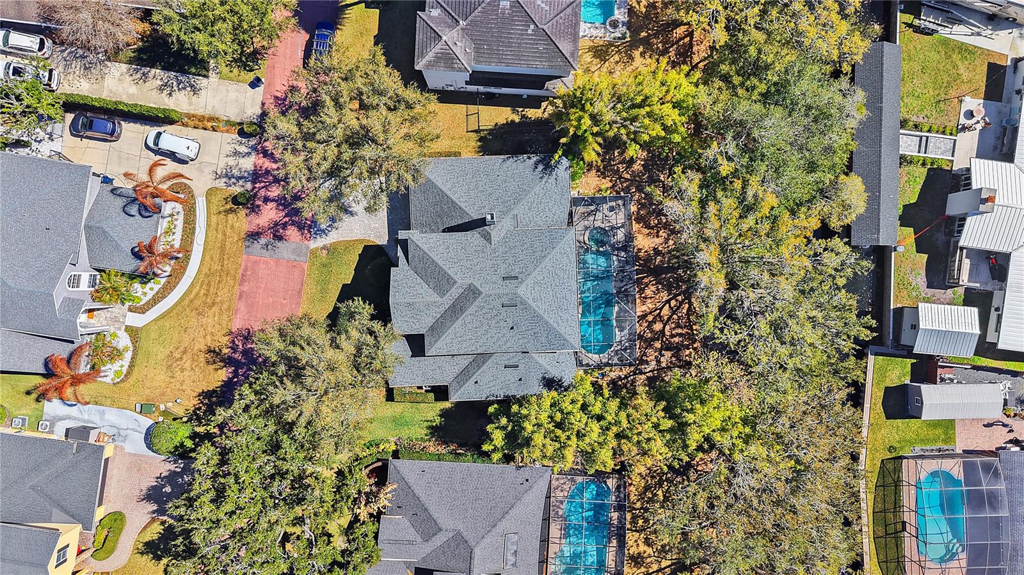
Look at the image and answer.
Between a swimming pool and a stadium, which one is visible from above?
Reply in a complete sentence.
Visible in the photo is a swimming pool.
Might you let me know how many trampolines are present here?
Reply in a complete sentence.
The picture shows no trampolines.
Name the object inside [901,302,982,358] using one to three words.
shed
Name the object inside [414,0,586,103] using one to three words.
house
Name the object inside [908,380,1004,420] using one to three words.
shed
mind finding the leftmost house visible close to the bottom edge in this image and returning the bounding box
[0,431,116,575]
